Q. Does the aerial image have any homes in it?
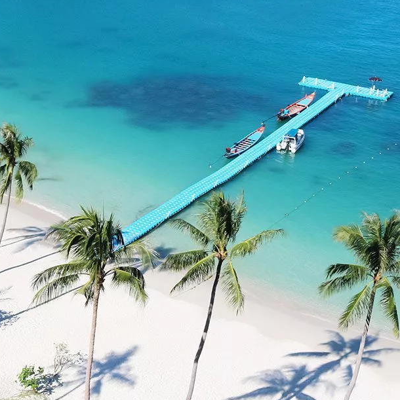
No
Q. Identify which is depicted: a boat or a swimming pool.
boat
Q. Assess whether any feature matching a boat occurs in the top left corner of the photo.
No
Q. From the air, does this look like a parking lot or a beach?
beach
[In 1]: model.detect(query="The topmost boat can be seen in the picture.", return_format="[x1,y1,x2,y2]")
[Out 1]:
[259,88,316,124]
